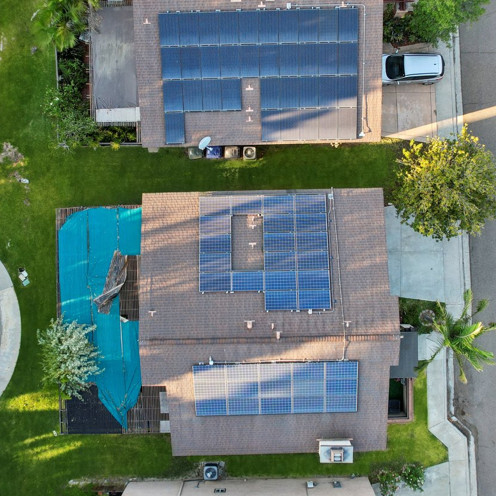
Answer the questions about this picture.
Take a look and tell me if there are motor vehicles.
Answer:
Yes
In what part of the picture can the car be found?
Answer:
top right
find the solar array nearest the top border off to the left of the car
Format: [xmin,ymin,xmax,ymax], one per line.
[157,1,365,144]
